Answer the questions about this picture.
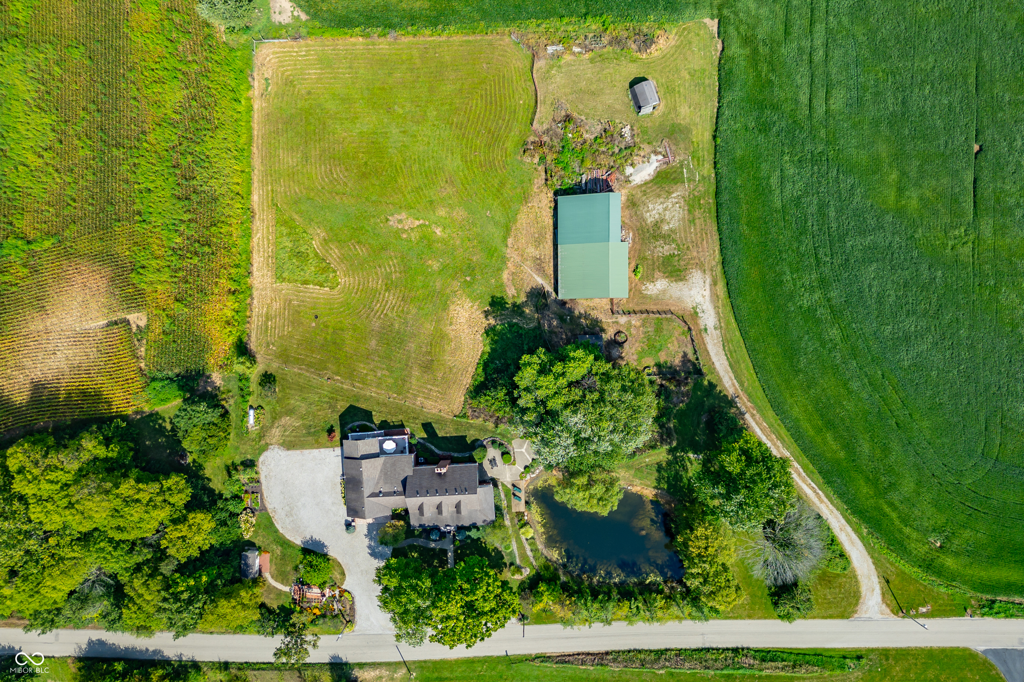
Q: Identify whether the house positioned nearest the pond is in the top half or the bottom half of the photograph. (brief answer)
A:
bottom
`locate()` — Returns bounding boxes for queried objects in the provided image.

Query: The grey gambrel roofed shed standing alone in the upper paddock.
[629,78,661,121]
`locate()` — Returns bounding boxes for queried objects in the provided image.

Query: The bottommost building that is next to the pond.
[338,436,495,532]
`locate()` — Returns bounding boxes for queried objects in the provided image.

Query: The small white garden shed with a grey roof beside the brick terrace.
[241,544,260,580]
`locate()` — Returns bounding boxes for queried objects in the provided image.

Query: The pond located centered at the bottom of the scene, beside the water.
[531,472,688,583]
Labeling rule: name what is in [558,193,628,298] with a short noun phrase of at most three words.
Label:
barn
